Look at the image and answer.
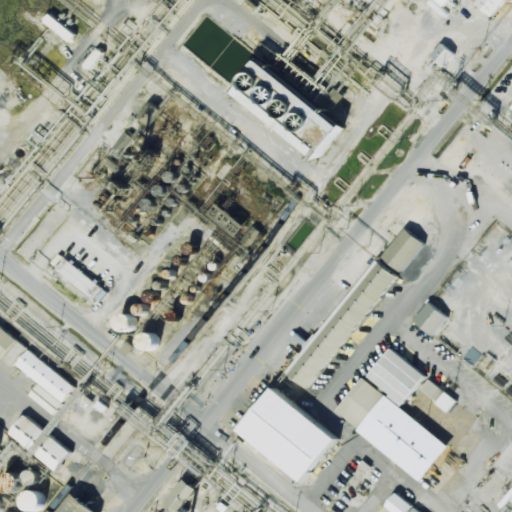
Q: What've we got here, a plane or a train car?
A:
train car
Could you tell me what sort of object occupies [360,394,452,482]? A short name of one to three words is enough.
building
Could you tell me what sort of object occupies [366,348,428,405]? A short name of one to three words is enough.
building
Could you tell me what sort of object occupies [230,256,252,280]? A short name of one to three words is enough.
rail car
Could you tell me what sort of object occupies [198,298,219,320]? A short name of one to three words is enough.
rail car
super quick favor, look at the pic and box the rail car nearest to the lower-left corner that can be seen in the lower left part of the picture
[104,420,124,443]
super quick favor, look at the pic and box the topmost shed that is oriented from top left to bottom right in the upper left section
[42,13,80,44]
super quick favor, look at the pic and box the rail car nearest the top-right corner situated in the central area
[280,195,301,218]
